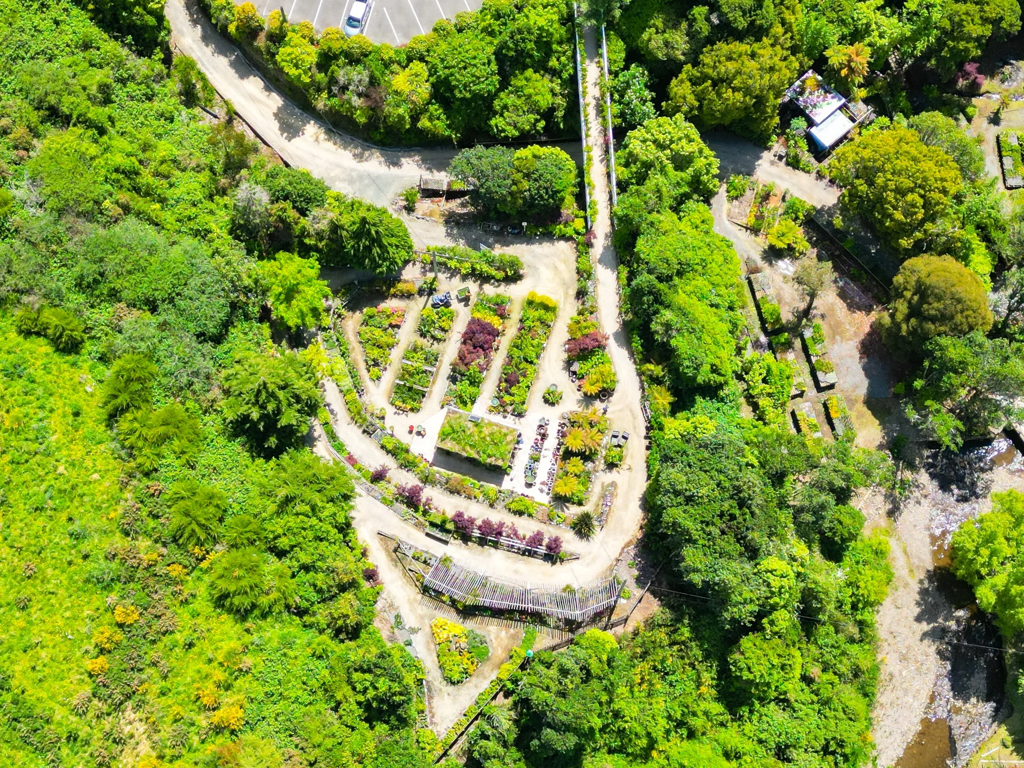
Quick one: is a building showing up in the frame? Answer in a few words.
Yes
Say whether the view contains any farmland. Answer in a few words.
No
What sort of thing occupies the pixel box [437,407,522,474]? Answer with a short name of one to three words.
building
